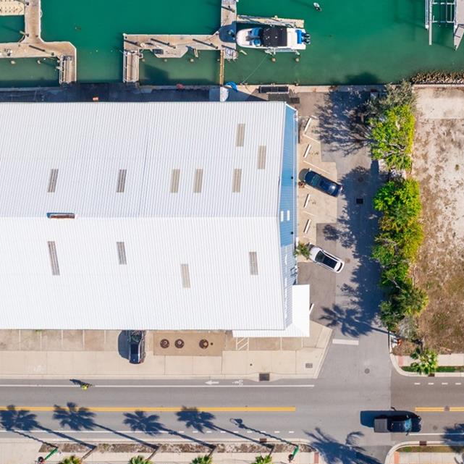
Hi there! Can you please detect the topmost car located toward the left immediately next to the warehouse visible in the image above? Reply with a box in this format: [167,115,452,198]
[124,328,145,366]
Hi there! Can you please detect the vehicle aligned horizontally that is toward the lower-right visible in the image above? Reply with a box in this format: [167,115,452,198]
[373,413,421,435]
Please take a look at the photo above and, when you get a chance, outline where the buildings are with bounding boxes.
[0,96,311,337]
